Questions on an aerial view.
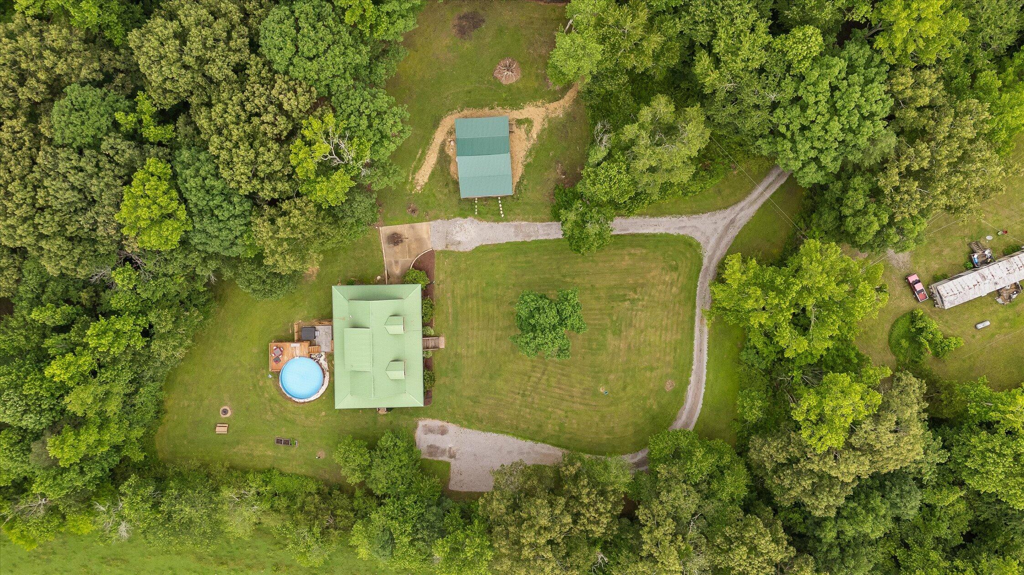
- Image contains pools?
Yes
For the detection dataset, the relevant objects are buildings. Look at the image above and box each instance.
[456,116,513,199]
[332,284,424,409]
[929,249,1024,309]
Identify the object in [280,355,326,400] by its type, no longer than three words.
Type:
swimming pool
